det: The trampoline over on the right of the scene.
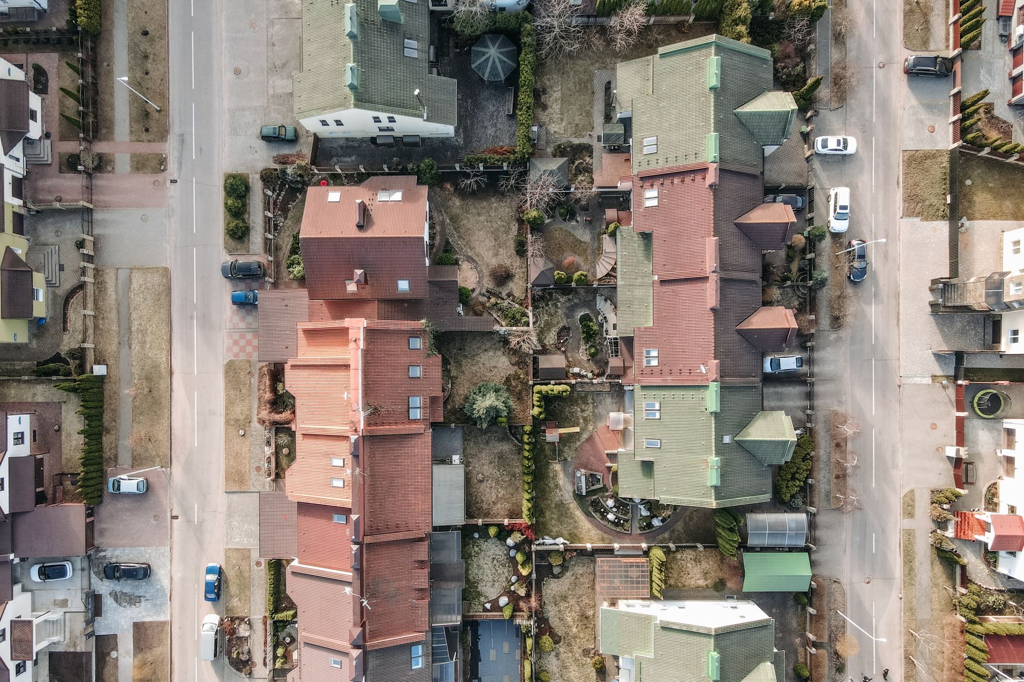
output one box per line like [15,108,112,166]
[974,388,1018,421]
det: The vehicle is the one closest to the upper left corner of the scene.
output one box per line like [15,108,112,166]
[259,123,300,143]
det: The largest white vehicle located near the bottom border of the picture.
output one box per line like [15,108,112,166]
[199,612,223,664]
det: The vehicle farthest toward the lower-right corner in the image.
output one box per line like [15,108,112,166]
[761,354,803,373]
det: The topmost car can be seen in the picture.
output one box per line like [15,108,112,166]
[903,54,951,77]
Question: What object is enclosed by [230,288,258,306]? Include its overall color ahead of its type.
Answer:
blue car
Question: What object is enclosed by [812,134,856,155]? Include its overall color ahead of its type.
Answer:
white car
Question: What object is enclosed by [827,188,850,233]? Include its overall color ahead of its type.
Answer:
white car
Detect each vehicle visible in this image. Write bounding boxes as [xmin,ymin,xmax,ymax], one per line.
[846,238,868,282]
[109,476,150,495]
[903,54,951,77]
[812,134,856,155]
[199,612,223,664]
[827,188,850,233]
[762,192,806,212]
[203,562,223,602]
[259,123,300,143]
[761,354,803,373]
[106,560,153,582]
[230,288,258,306]
[222,259,267,280]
